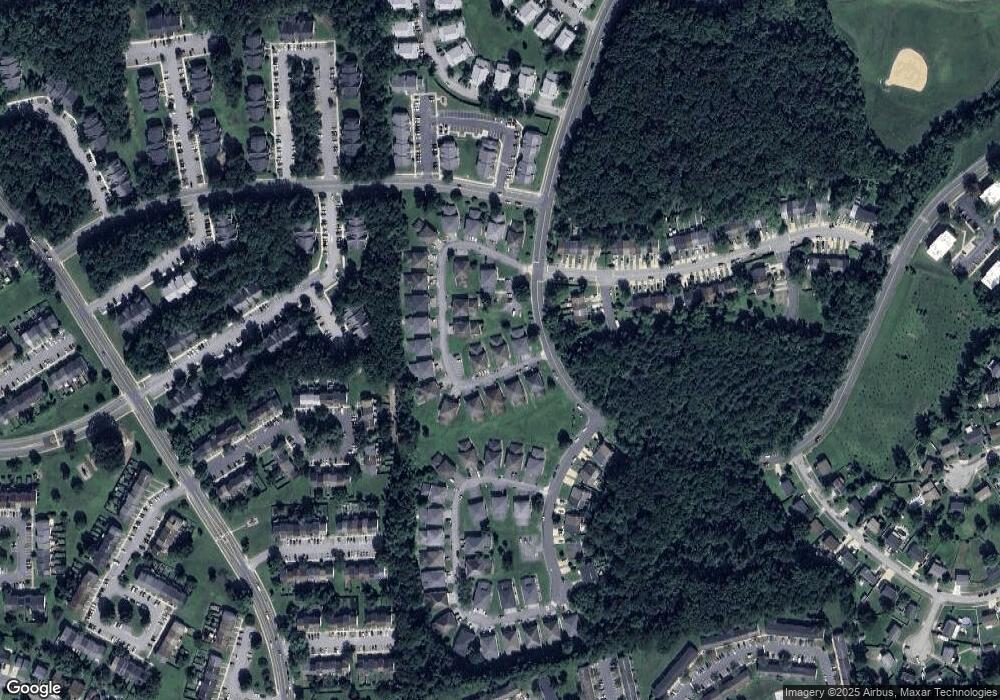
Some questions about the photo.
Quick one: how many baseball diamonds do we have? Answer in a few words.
1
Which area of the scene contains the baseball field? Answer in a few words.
top right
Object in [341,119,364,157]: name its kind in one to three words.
building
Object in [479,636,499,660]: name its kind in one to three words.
house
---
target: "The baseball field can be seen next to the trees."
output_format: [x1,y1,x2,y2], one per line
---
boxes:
[876,40,940,103]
